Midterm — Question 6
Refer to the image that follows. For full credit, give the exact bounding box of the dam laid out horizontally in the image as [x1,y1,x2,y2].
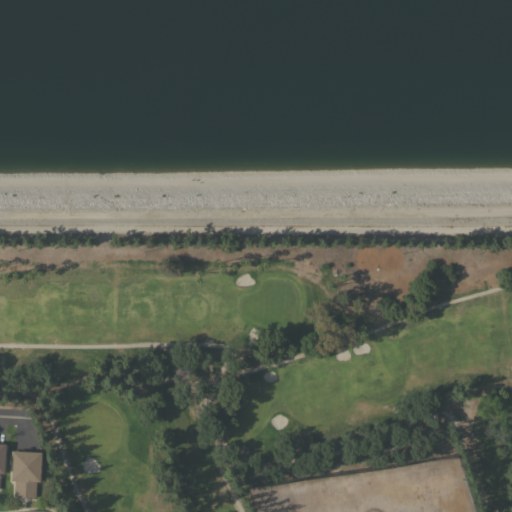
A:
[0,168,512,269]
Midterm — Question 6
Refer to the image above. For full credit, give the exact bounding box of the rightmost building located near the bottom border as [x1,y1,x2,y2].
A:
[12,452,42,500]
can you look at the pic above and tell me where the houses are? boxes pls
[0,444,6,490]
[12,452,42,500]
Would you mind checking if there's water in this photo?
Yes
